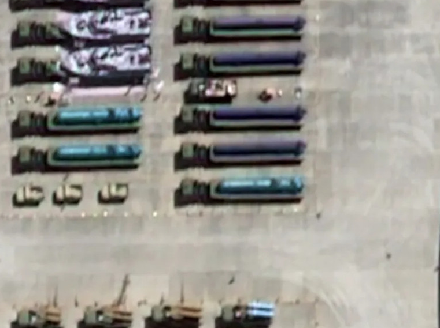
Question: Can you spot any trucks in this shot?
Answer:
Yes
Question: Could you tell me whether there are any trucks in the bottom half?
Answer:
Yes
